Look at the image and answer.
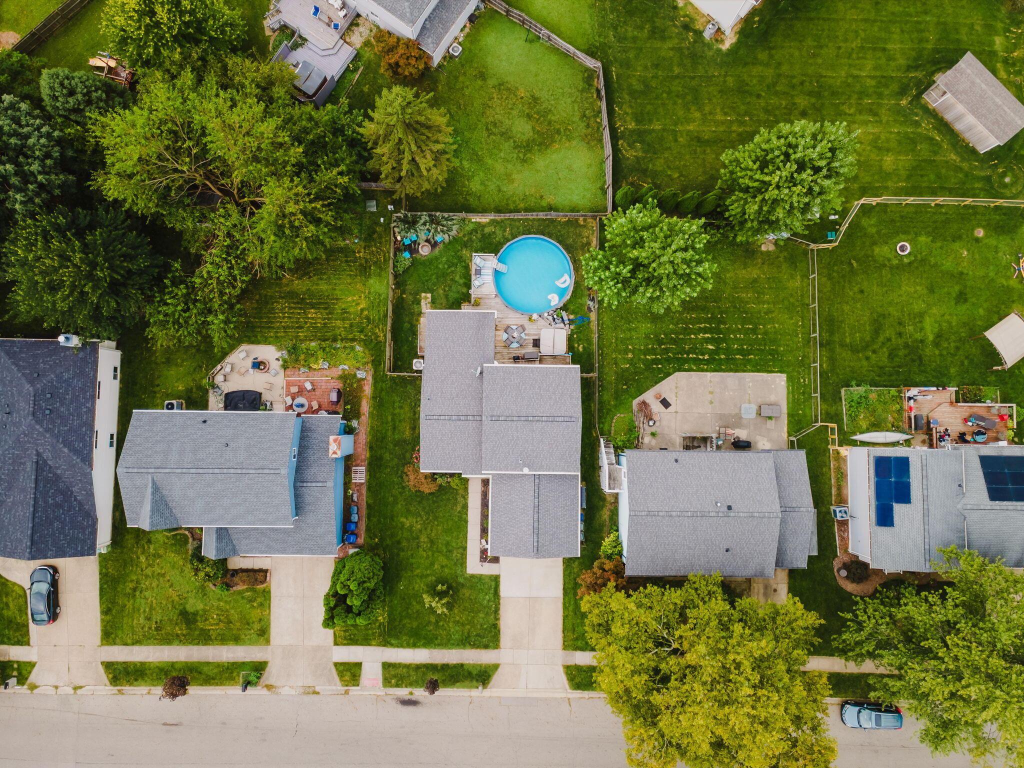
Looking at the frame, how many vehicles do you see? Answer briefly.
2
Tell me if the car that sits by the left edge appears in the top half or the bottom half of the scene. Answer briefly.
bottom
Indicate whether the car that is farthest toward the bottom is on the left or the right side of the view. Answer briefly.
right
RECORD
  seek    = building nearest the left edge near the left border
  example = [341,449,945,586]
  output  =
[0,335,121,559]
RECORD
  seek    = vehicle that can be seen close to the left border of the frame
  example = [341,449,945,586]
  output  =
[28,566,62,627]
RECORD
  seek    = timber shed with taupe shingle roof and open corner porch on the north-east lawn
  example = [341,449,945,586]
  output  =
[923,51,1024,154]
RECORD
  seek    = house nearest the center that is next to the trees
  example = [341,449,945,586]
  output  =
[420,310,582,559]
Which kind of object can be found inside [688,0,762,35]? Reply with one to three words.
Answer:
house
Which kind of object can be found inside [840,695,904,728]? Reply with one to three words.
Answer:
car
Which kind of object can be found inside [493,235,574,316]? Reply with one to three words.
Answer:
swimming pool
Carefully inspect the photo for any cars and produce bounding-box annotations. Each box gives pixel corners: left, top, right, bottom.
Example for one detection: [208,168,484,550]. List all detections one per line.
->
[840,695,904,728]
[28,566,62,627]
